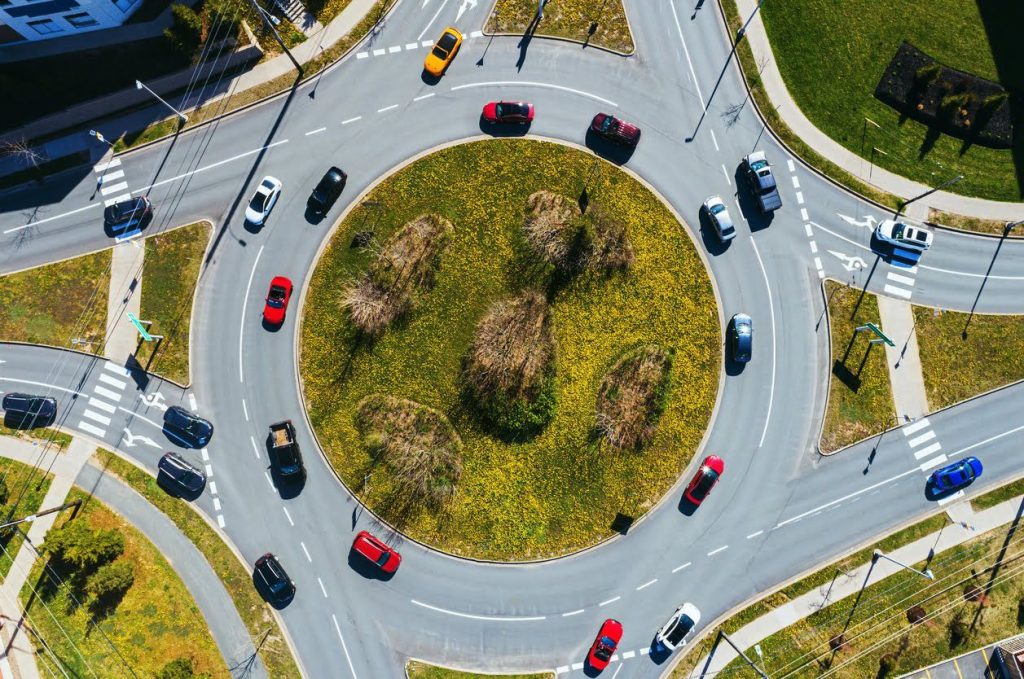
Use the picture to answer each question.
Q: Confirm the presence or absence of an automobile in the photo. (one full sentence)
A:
Yes, you can see an automobile in this photo.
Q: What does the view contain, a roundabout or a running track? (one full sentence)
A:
The one in the frame is a roundabout.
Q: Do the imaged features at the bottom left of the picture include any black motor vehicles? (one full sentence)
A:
Yes, I can see a black motor vehicle at the bottom left of the picture.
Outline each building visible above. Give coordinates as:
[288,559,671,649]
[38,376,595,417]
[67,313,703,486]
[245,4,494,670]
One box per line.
[999,637,1024,679]
[0,0,142,47]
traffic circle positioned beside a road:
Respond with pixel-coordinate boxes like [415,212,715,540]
[190,30,825,673]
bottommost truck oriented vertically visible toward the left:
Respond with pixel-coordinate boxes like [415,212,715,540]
[271,420,302,482]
